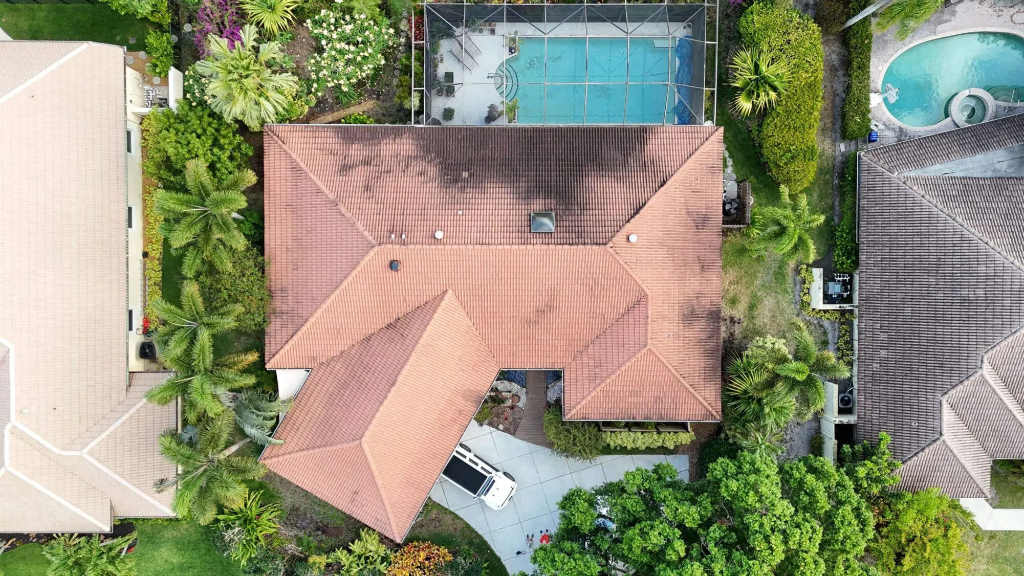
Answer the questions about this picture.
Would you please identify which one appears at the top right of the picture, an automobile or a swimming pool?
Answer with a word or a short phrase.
swimming pool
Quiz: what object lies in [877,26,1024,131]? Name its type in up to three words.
swimming pool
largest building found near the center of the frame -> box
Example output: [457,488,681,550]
[258,123,725,545]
